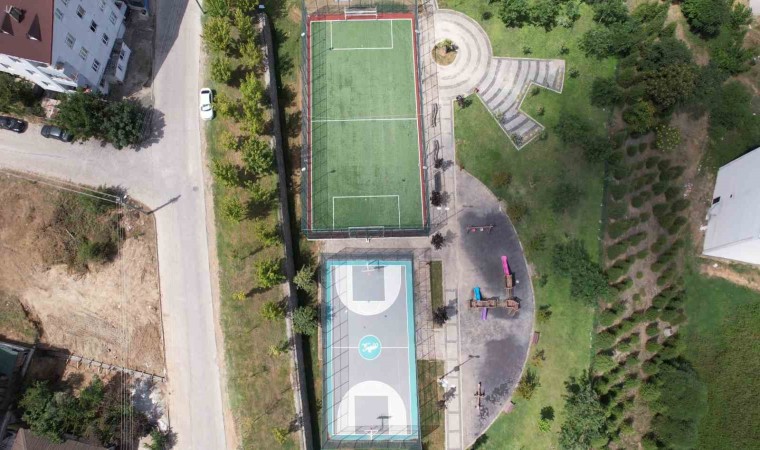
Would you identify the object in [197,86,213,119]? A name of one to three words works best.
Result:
car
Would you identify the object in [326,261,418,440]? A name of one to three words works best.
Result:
basketball court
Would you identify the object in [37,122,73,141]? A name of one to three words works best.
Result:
car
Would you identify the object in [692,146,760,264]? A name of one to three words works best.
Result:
building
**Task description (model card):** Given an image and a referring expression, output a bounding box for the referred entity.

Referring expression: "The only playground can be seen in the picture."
[457,166,532,448]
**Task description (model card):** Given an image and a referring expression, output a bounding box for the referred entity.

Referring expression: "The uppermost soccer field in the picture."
[307,13,429,238]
